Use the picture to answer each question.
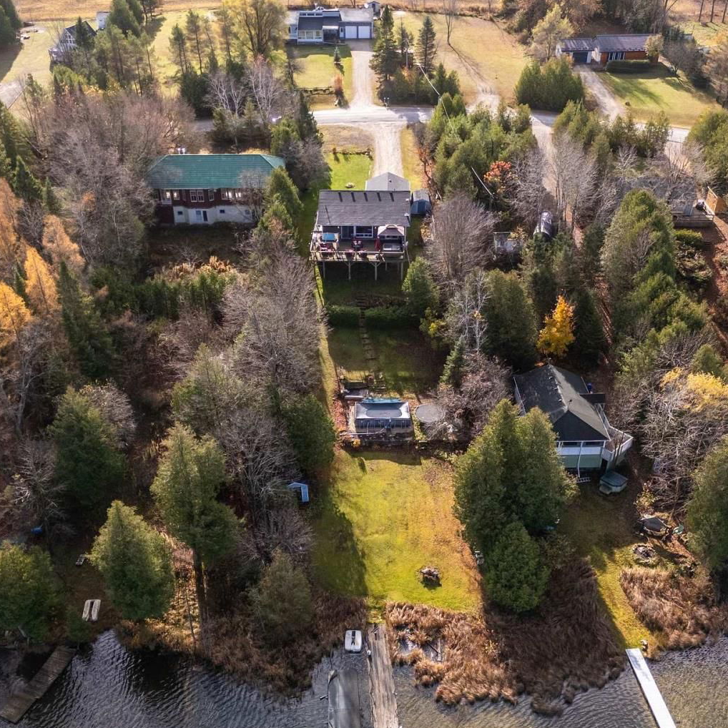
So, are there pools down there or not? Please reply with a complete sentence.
Yes, this view includes a pool.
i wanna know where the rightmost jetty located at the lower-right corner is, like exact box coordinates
[627,649,674,728]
